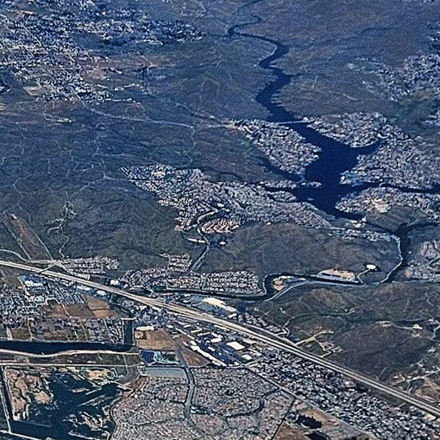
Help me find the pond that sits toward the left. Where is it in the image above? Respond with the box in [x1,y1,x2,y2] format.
[14,374,135,437]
